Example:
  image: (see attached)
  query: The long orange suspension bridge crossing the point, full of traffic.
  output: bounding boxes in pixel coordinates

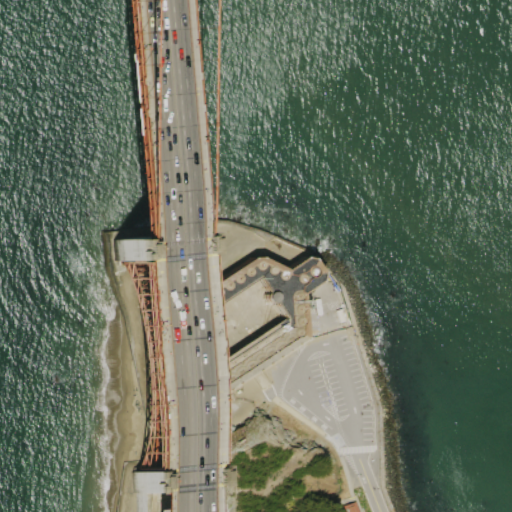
[118,0,231,512]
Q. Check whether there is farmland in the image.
No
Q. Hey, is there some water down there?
Yes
